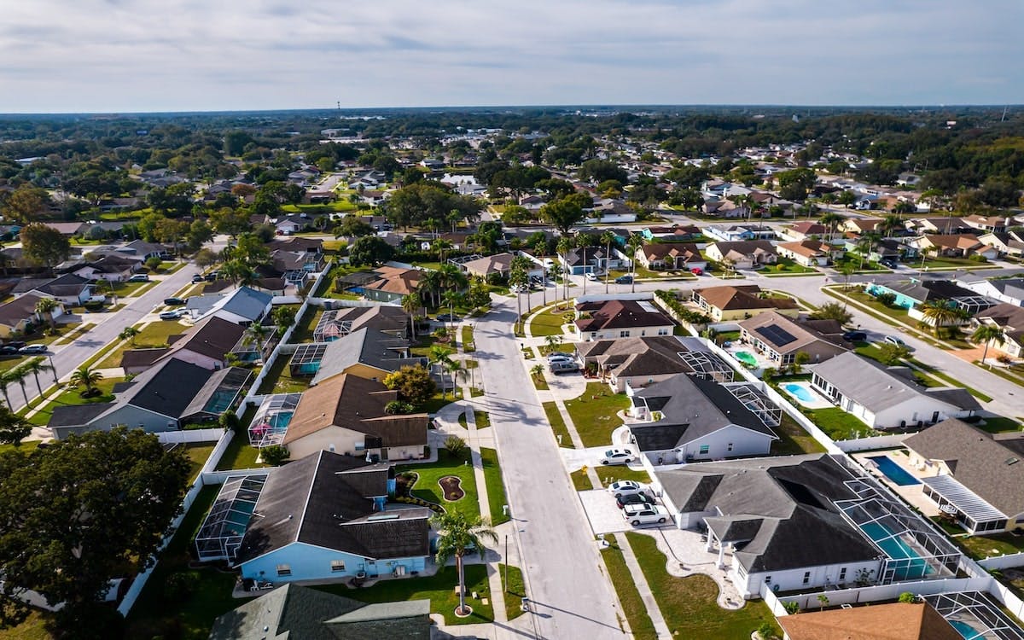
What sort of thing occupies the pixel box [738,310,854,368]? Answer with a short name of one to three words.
house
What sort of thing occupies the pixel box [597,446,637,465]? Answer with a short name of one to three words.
car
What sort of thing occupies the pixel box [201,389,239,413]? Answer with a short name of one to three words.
swimming pool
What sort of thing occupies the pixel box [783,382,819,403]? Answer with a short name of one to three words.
swimming pool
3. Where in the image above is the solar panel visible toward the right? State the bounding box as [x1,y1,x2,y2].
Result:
[759,321,798,342]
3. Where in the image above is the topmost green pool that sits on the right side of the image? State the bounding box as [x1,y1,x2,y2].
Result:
[732,349,761,367]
